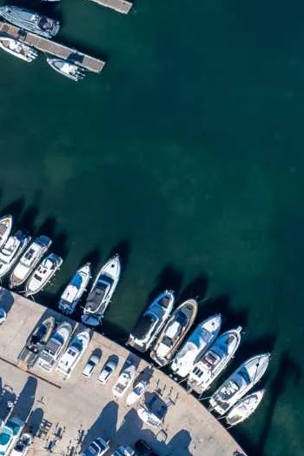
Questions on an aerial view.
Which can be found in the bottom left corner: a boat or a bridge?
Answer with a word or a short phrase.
boat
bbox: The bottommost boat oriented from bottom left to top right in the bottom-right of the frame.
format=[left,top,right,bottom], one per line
[222,388,265,427]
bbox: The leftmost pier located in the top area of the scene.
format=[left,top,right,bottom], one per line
[0,22,104,73]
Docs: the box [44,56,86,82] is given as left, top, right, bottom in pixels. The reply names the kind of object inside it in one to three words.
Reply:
boat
